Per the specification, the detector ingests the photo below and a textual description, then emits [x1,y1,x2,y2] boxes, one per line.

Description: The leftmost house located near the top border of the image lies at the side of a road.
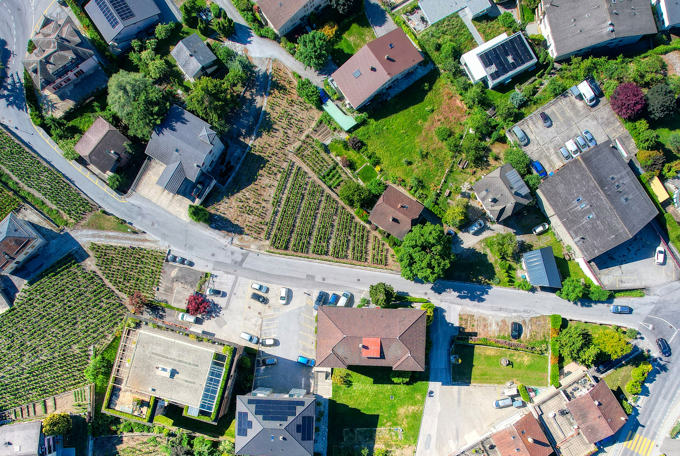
[23,16,100,94]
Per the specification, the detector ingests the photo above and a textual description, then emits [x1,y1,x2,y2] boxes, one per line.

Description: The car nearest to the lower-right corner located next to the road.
[596,433,612,448]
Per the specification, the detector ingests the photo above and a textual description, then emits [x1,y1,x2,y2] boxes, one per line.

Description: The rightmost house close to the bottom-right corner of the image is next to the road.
[565,379,628,444]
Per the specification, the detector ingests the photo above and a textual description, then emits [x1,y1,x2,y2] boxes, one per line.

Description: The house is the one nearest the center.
[368,183,424,239]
